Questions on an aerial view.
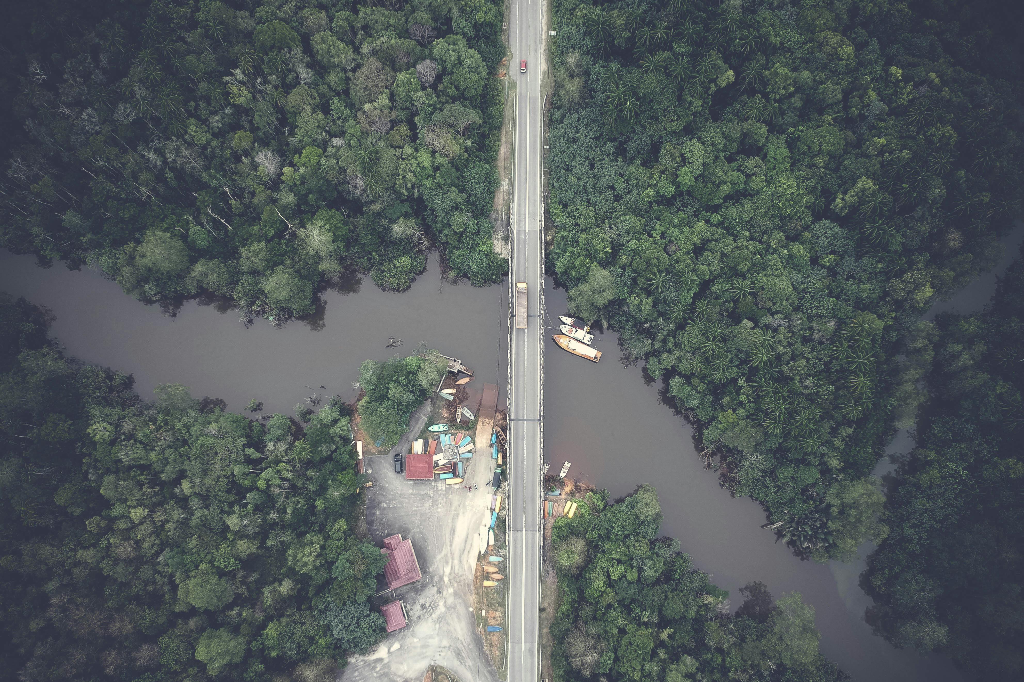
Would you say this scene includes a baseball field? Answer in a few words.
No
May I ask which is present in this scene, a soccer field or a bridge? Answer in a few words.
bridge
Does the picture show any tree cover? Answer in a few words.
Yes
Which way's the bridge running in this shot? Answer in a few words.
vertically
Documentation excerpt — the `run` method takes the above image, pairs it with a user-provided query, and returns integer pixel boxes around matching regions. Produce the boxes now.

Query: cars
[518,60,525,72]
[395,454,403,473]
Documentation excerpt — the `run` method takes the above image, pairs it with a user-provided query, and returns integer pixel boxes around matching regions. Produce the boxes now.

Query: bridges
[505,204,544,545]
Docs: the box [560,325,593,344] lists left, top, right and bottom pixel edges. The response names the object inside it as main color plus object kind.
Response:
white boat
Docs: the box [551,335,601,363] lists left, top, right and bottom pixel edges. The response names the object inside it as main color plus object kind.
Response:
white boat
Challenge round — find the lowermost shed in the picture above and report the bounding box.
[380,600,409,633]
